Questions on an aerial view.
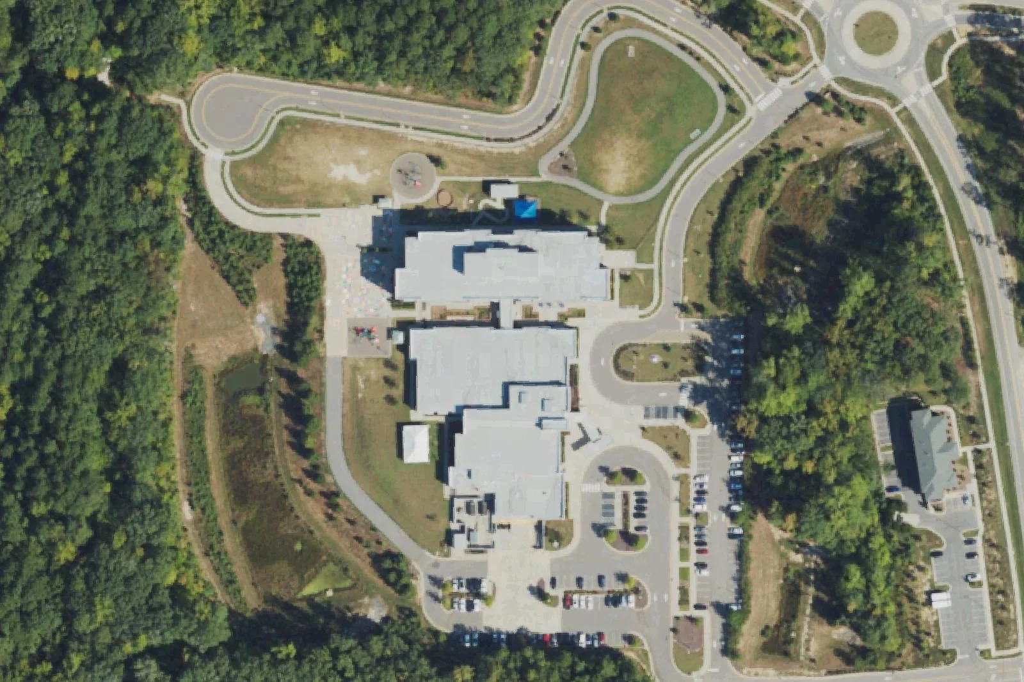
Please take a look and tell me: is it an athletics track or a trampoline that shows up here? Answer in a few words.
athletics track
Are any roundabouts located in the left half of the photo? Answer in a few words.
No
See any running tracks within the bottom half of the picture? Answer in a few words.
No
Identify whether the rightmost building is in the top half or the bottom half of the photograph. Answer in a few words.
bottom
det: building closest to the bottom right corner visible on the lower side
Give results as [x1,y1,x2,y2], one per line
[911,407,961,503]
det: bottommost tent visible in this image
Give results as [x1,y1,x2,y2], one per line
[403,425,430,463]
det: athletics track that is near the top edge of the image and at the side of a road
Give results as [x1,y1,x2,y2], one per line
[538,28,726,204]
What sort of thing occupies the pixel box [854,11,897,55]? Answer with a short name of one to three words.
roundabout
